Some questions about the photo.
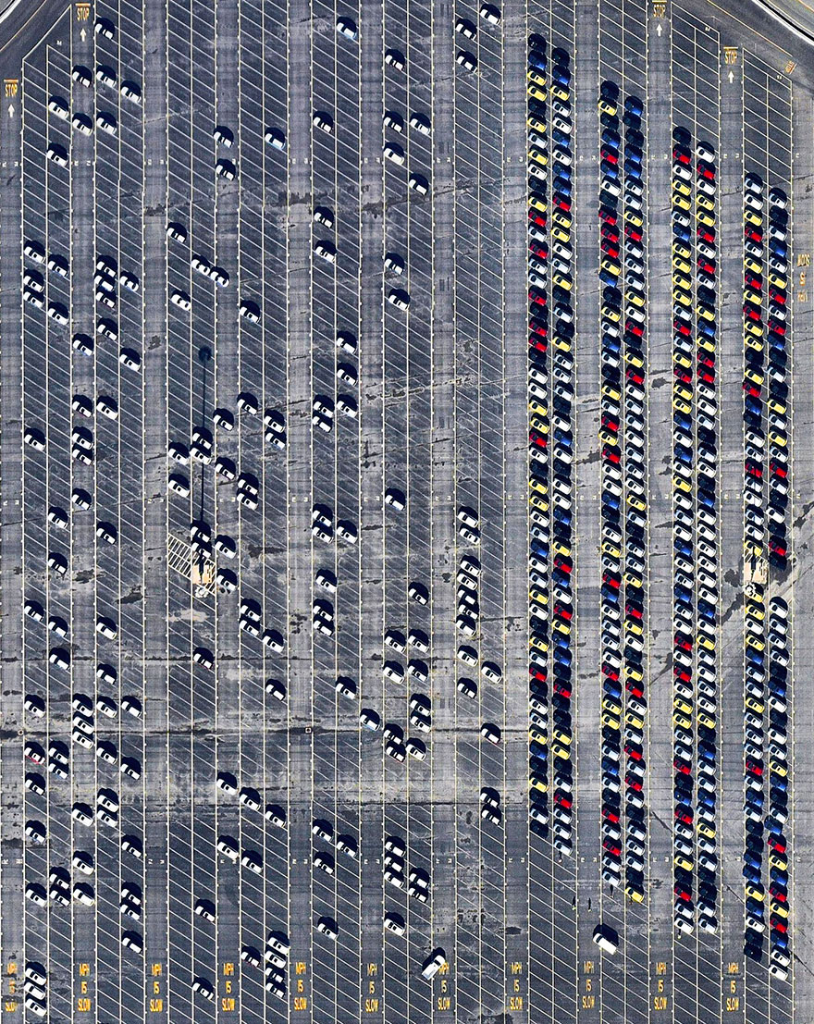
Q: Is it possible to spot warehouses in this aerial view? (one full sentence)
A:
No, no warehouse is visible in the scene.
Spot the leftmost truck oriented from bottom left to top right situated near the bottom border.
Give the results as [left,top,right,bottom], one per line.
[422,954,445,979]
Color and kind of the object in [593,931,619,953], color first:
white vehicle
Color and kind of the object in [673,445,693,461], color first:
blue car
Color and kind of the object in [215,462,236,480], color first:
white car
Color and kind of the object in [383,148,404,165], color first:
white car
